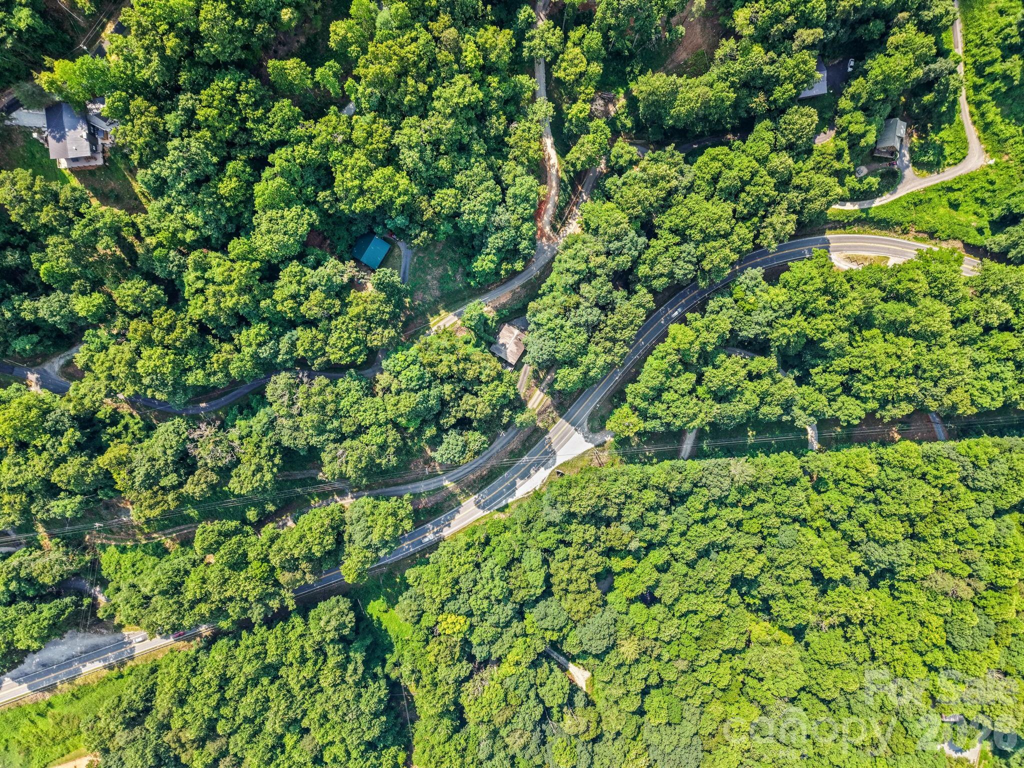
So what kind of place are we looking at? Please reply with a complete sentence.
What you see here is a forest.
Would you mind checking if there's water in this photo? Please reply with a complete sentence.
No, water can't be seen anywhere here.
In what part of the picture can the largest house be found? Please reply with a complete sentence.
The largest house sits in the top left section of the image.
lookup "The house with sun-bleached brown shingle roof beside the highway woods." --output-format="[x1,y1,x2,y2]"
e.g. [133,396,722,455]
[490,324,529,373]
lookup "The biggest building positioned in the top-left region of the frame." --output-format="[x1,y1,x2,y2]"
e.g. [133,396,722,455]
[33,103,116,170]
